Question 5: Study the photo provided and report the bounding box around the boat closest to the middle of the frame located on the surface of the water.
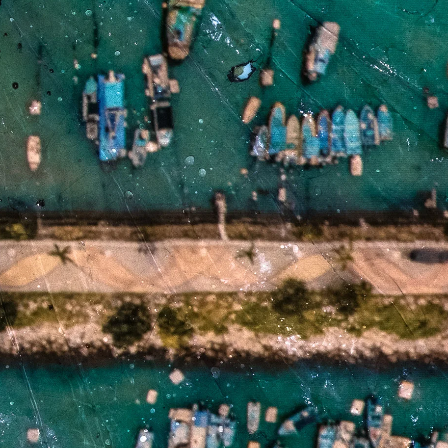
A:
[252,125,270,162]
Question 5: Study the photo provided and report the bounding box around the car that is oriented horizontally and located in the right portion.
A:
[405,247,448,265]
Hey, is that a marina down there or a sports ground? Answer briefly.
marina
